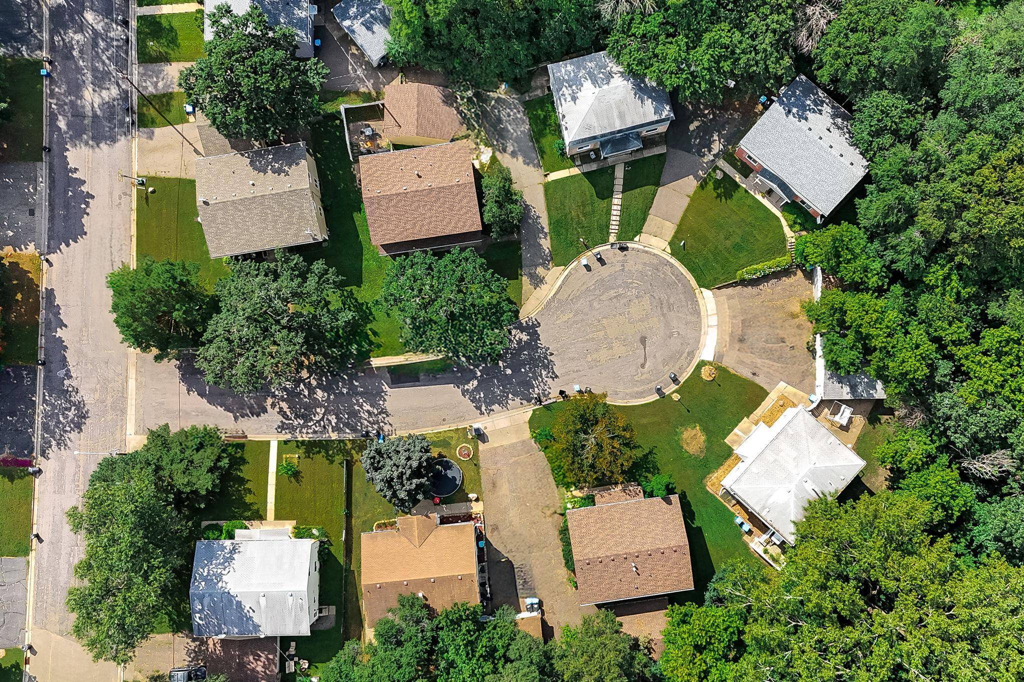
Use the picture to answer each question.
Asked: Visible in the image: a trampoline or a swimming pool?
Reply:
trampoline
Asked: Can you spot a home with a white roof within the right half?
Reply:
Yes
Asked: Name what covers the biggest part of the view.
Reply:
trees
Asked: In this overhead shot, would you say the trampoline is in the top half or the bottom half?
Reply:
bottom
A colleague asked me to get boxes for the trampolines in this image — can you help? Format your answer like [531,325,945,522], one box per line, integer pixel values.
[427,459,464,496]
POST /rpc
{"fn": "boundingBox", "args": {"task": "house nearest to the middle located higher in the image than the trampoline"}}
[359,139,483,261]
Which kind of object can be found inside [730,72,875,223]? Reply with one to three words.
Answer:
house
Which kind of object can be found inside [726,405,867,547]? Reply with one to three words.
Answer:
house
